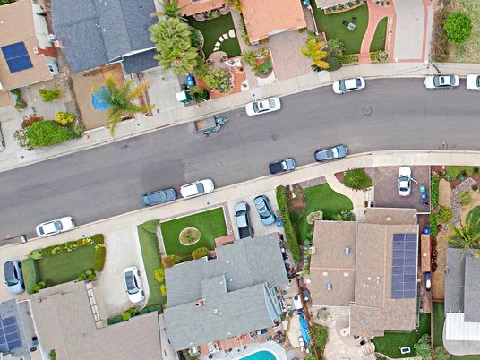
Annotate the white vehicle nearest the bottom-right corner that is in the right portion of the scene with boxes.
[396,166,412,196]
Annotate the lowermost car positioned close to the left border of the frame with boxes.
[5,258,26,294]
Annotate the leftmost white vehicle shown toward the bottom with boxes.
[37,215,77,236]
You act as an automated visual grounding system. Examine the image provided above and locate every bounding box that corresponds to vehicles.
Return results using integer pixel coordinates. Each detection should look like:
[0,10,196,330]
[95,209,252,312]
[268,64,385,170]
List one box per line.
[234,200,252,239]
[192,115,227,135]
[424,73,459,89]
[332,76,367,94]
[179,178,217,198]
[466,73,480,90]
[37,215,77,236]
[266,156,298,176]
[140,187,179,206]
[124,264,148,303]
[396,166,412,196]
[254,193,278,227]
[5,258,26,294]
[245,98,282,115]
